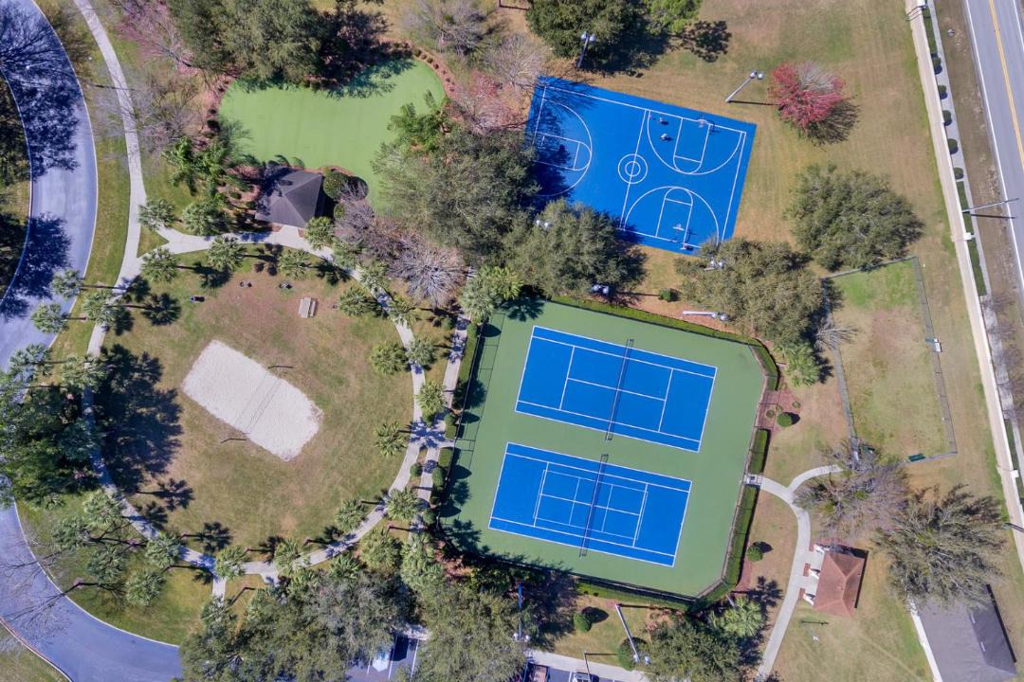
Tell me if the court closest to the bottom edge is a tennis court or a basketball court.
tennis court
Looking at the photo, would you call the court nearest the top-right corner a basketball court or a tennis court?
basketball court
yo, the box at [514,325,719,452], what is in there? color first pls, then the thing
blue tennis court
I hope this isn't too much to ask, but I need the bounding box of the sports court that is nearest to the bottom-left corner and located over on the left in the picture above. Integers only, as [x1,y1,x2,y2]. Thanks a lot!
[180,338,326,464]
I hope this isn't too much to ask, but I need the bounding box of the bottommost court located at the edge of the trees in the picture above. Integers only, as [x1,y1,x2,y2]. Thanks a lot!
[489,443,692,566]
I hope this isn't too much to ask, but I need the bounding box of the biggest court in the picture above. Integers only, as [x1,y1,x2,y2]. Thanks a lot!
[509,75,758,259]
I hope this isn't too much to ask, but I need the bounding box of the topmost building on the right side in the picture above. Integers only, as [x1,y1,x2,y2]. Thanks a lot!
[800,542,865,618]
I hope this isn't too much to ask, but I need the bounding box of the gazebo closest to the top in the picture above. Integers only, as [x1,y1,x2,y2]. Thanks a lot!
[255,165,324,228]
